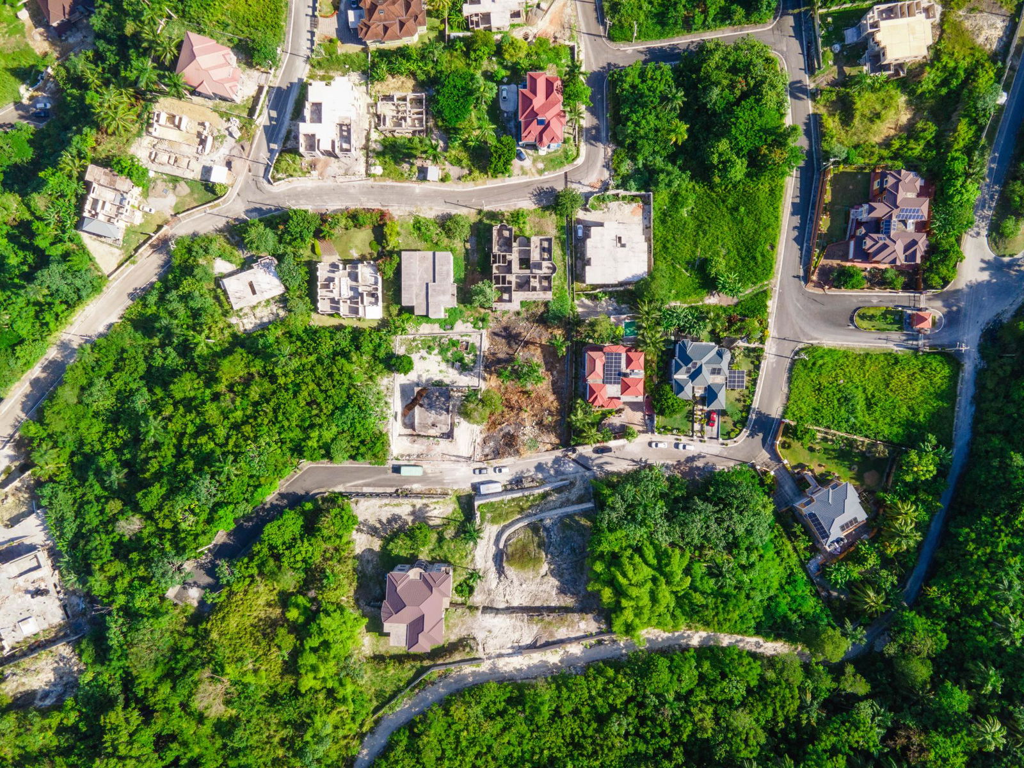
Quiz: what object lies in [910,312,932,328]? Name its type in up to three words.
building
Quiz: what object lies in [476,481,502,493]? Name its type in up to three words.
vehicle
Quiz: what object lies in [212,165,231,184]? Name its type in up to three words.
shed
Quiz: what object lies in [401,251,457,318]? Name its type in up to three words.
house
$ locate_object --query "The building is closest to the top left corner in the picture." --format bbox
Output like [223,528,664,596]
[1,0,85,43]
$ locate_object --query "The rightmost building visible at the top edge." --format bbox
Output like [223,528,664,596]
[854,1,937,86]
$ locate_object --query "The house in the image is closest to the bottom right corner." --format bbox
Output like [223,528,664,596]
[785,477,872,547]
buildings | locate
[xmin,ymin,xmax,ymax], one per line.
[0,548,74,645]
[81,163,157,249]
[577,344,645,409]
[318,258,384,320]
[428,166,439,181]
[491,222,558,312]
[910,312,932,328]
[298,75,364,162]
[585,220,647,285]
[519,72,566,158]
[463,0,526,38]
[359,0,427,60]
[212,165,231,184]
[401,251,457,318]
[1,0,85,43]
[221,251,291,317]
[785,477,872,547]
[672,342,731,410]
[399,383,455,440]
[854,1,937,86]
[833,168,929,272]
[173,30,266,113]
[382,561,452,652]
